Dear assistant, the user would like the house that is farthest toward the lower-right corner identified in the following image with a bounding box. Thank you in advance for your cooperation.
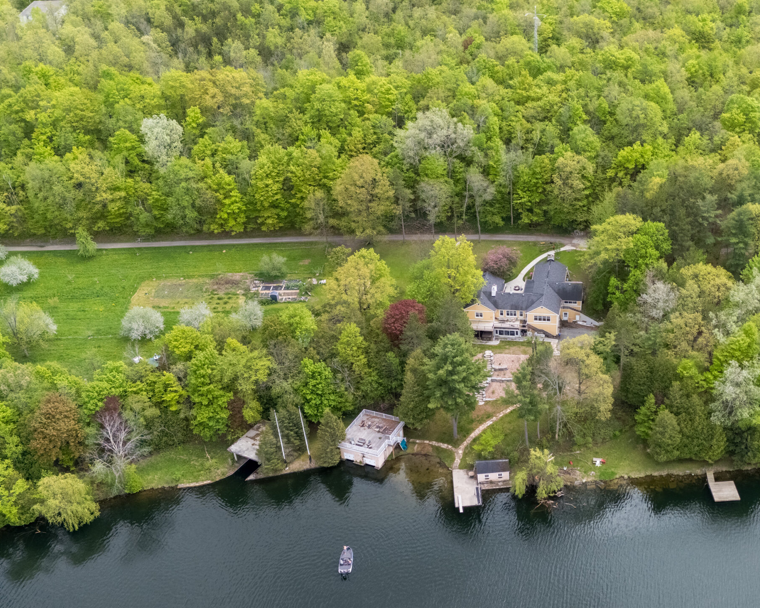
[475,457,510,484]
